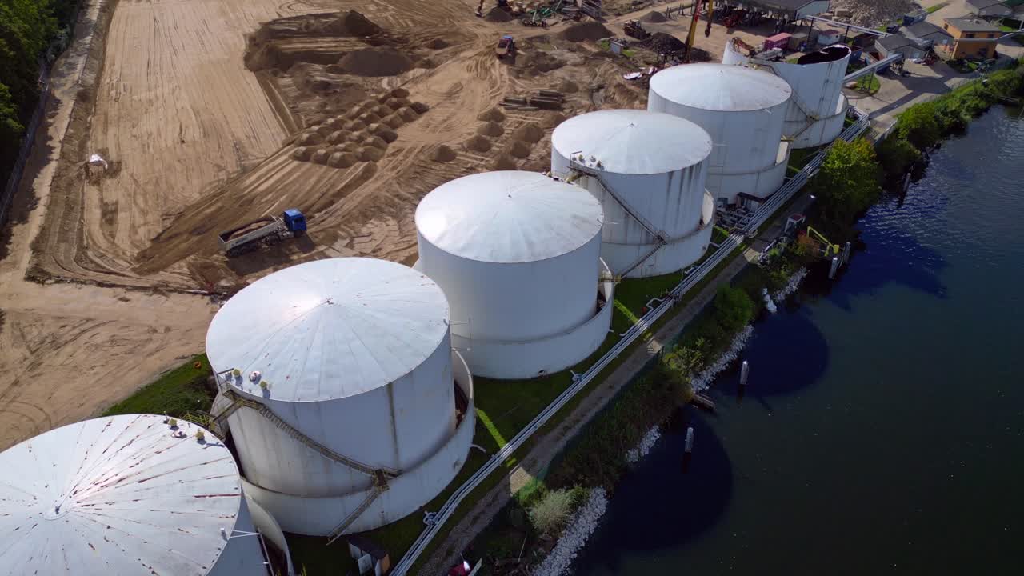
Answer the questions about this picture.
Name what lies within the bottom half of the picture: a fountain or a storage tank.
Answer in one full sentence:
Looking within the bottom half of the picture, you will find a storage tank.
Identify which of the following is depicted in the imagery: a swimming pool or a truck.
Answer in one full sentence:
I can see a truck in this picture.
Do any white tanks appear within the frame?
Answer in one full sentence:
Yes, there is a white tank in the image.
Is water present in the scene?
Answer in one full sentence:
Yes, water can be seen from above here.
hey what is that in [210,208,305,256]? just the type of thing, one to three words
truck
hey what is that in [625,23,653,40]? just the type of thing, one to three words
work vehicle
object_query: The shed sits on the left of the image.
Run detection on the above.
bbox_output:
[346,525,394,574]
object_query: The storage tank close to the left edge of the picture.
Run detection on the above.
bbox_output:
[0,413,277,576]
